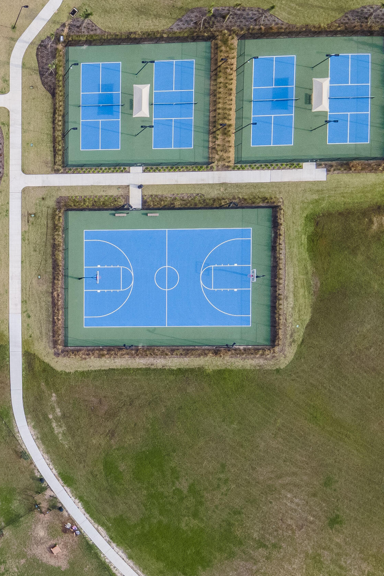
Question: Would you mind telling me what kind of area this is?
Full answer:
It's a sports ground.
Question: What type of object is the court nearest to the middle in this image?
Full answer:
The court nearest to the middle is a basketball court.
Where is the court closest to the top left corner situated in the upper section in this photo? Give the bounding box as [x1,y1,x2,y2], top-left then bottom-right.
[64,41,212,168]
